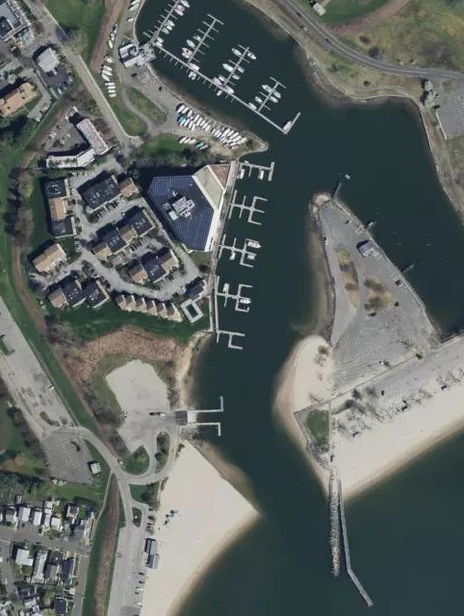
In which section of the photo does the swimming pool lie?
center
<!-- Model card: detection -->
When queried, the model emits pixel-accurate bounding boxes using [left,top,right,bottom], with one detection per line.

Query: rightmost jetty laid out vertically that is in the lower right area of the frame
[338,473,374,607]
